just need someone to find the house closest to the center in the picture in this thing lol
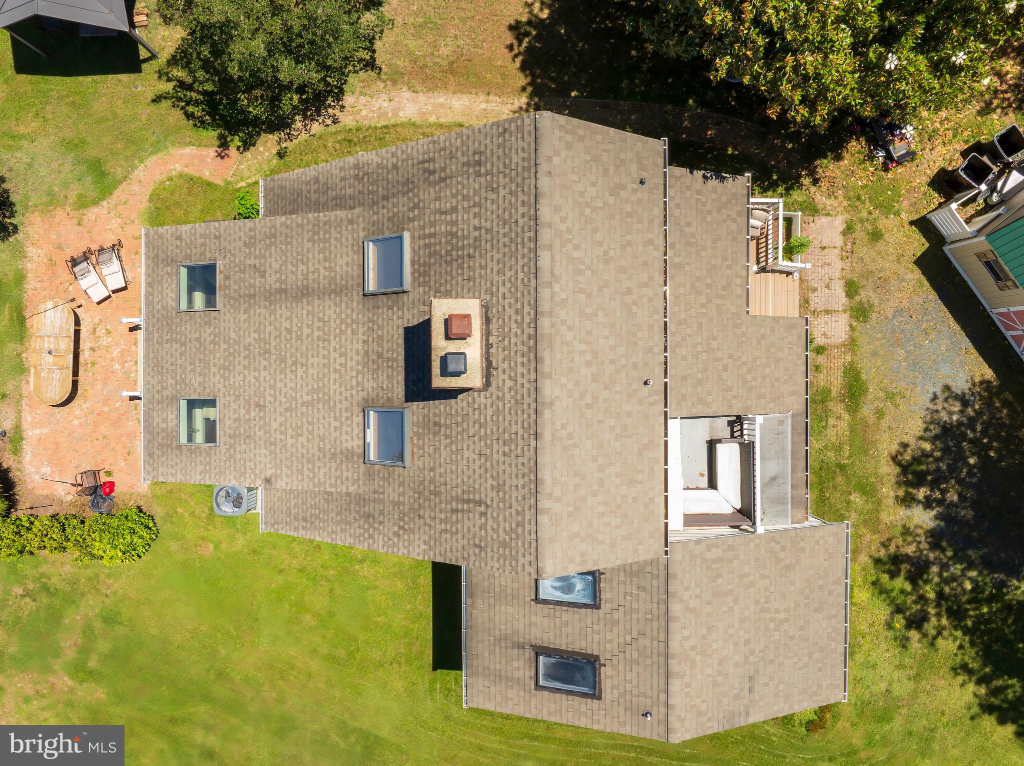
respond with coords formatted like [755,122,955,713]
[122,108,850,744]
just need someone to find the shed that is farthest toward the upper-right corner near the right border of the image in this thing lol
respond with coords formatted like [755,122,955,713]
[943,191,1024,361]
